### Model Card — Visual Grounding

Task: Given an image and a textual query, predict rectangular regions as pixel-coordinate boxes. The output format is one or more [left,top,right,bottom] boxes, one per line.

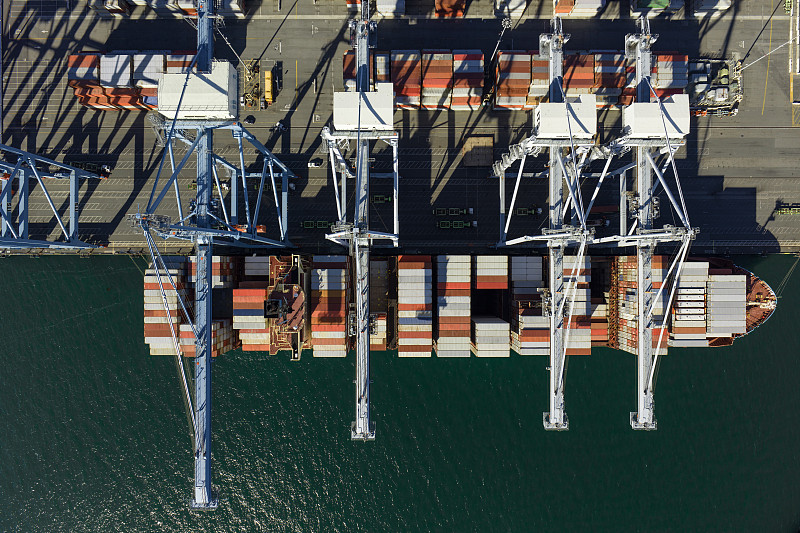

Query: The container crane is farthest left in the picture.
[0,168,38,248]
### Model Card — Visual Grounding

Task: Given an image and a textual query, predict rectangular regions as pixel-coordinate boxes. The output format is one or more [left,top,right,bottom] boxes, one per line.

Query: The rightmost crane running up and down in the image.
[562,8,709,428]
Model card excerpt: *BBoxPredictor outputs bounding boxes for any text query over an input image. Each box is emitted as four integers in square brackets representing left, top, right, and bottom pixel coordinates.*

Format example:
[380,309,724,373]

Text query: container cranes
[0,143,110,248]
[320,0,406,438]
[562,8,709,428]
[109,0,305,506]
[484,8,607,428]
[0,168,38,248]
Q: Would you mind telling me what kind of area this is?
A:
port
